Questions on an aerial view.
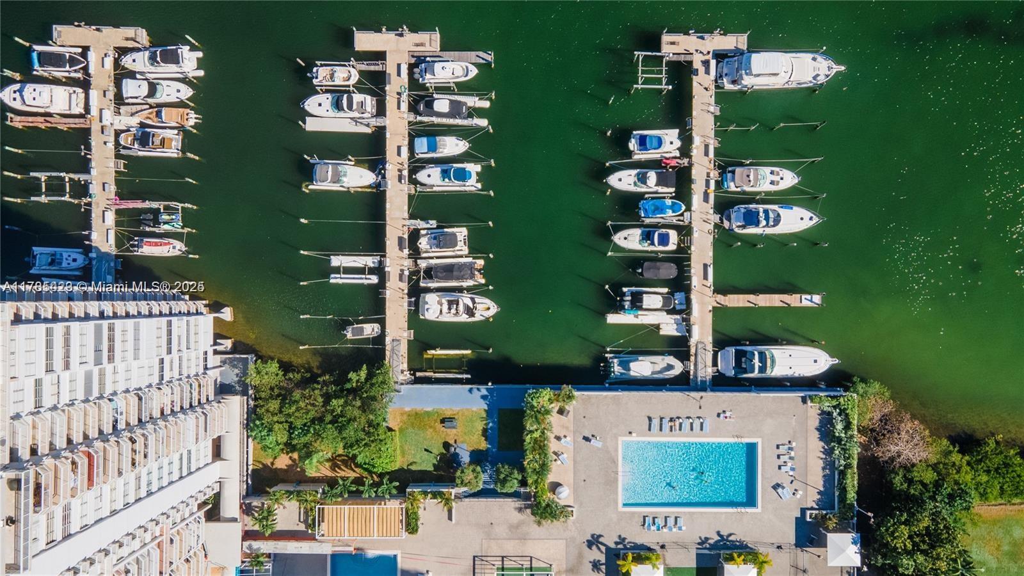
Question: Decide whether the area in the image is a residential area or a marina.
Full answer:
This looks like a marina.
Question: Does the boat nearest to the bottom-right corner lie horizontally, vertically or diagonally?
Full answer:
Seen from above, the boat nearest to the bottom-right corner lies horizontally.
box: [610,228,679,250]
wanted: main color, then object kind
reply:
white boat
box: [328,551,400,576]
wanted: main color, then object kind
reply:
blue swimming pool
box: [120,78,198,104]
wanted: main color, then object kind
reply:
white boat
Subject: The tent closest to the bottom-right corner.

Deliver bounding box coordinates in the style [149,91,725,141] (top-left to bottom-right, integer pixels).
[821,527,861,567]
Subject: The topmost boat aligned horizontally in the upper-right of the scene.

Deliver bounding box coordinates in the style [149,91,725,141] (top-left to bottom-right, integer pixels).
[715,52,848,94]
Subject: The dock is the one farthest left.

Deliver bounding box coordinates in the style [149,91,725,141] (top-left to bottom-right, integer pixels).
[8,114,91,128]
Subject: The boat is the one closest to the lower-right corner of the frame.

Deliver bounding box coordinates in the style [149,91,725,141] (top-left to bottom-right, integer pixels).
[716,346,843,377]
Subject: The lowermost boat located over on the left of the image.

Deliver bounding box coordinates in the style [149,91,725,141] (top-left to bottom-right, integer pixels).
[340,324,382,339]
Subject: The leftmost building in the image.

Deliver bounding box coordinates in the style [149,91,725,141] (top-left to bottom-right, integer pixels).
[0,284,230,576]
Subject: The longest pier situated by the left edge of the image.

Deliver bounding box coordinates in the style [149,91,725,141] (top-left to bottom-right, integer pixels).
[50,24,147,289]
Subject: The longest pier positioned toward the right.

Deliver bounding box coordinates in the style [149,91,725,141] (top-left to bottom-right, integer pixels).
[661,32,748,384]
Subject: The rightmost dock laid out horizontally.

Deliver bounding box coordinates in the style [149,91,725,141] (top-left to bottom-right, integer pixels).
[713,294,822,306]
